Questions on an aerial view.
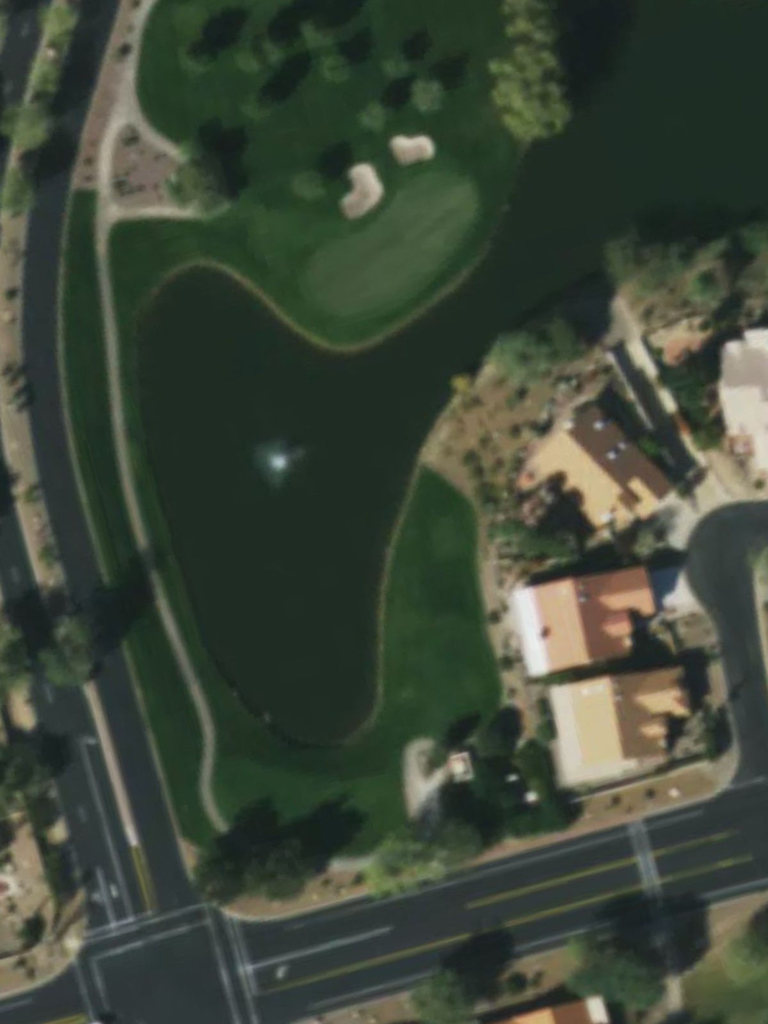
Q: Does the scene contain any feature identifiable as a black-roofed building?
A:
No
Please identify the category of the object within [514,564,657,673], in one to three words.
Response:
house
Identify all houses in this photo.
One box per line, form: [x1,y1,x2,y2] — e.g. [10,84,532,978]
[550,668,692,793]
[514,564,657,673]
[526,401,674,532]
[508,1000,608,1024]
[724,330,768,466]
